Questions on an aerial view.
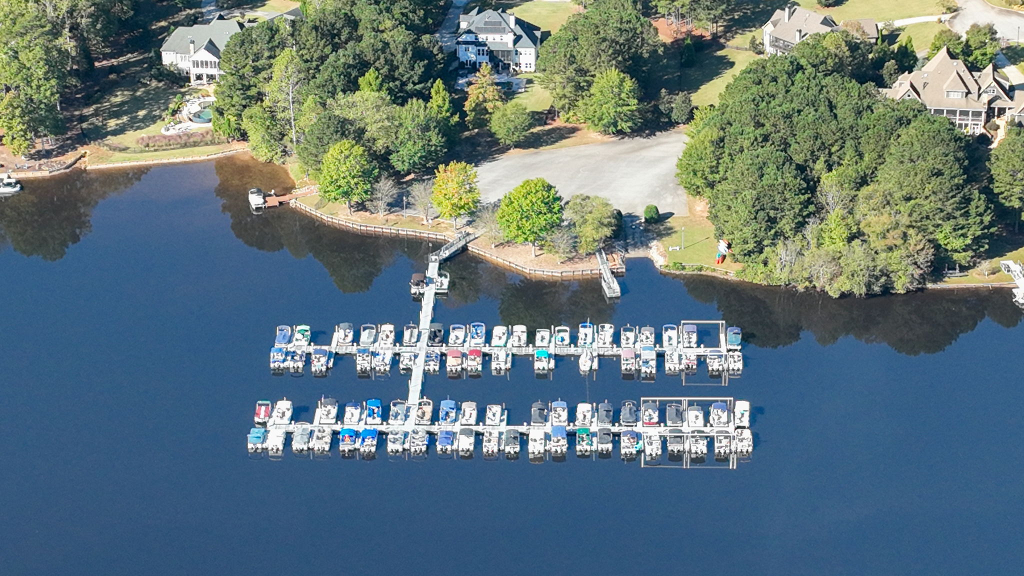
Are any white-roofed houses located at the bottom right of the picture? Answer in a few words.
No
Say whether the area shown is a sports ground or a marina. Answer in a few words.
marina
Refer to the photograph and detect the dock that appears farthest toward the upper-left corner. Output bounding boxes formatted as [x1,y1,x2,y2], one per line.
[265,184,322,209]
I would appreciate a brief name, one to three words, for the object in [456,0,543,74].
house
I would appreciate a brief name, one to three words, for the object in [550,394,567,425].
boat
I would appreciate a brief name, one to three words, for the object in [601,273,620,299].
pier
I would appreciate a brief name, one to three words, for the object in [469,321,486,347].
boat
